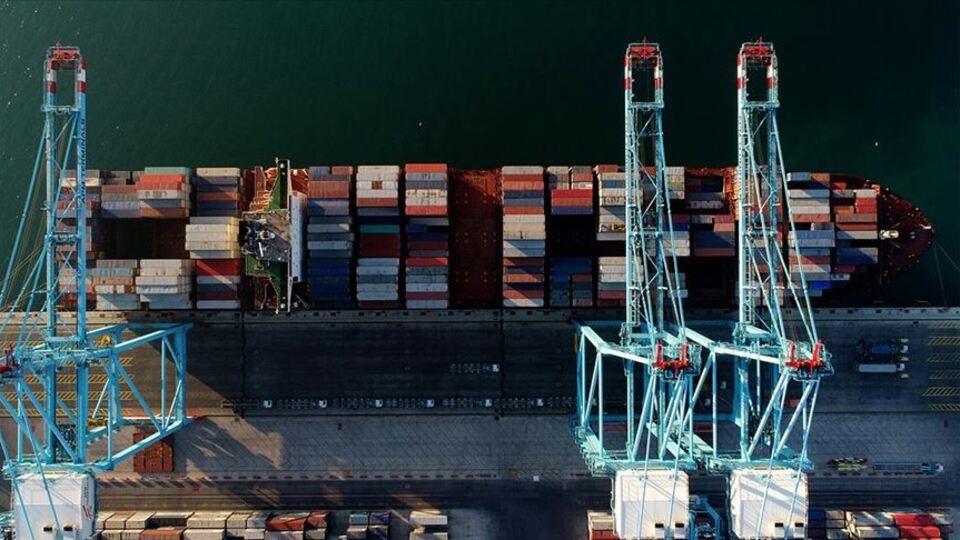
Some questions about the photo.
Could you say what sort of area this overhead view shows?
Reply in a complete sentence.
This image shows a port.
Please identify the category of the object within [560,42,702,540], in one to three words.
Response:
container crane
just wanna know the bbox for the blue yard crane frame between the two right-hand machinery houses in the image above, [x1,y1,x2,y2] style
[686,487,722,540]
